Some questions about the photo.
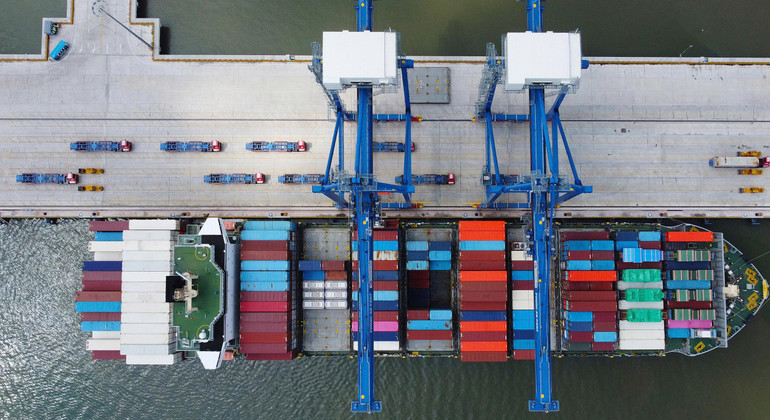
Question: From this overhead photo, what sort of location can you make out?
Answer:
port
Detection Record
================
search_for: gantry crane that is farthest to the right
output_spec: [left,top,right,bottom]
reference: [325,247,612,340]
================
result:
[474,0,593,414]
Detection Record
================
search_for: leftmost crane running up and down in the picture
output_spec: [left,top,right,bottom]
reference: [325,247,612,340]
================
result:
[303,0,420,415]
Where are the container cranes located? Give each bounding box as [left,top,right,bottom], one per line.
[303,0,420,415]
[474,0,593,414]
